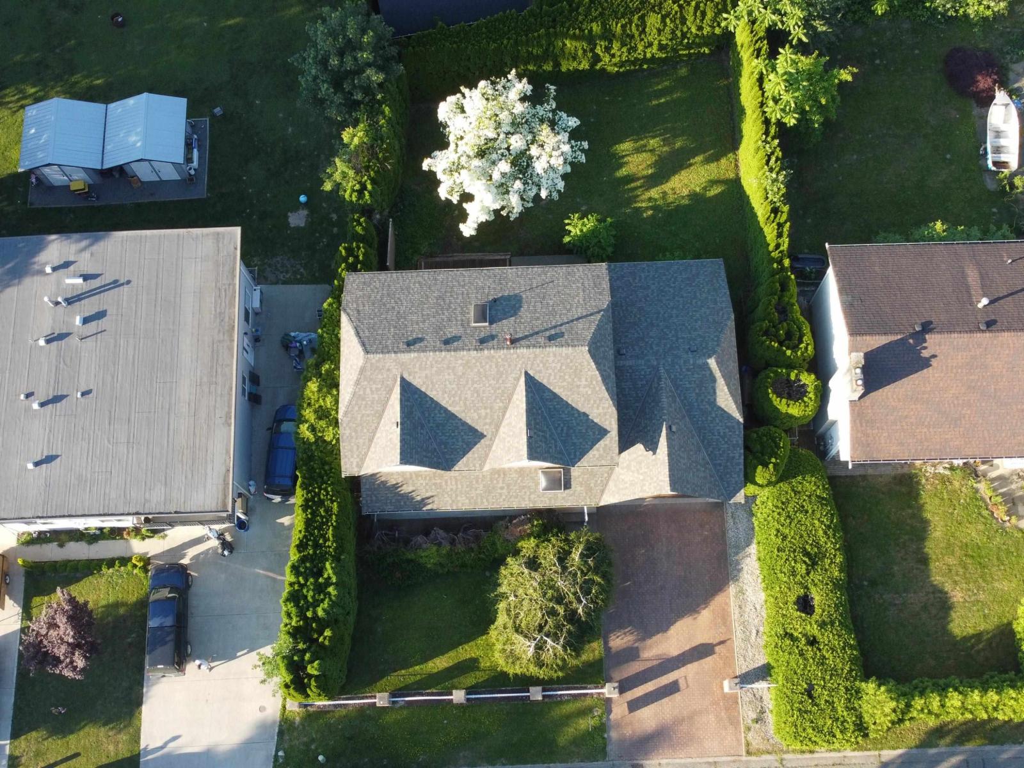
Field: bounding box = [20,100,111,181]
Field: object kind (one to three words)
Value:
shed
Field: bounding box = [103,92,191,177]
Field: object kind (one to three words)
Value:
shed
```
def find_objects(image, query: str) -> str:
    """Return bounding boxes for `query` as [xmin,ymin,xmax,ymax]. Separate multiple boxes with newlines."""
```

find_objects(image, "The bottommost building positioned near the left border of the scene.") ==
[0,225,257,533]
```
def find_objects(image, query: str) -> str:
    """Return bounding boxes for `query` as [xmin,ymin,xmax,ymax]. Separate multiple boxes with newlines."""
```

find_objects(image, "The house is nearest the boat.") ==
[810,235,1024,470]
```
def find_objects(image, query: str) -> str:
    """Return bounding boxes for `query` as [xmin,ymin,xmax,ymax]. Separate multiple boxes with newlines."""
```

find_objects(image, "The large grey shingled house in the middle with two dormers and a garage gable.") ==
[337,257,744,519]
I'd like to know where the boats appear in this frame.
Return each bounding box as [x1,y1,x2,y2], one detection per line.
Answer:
[987,91,1020,175]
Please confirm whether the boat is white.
Yes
